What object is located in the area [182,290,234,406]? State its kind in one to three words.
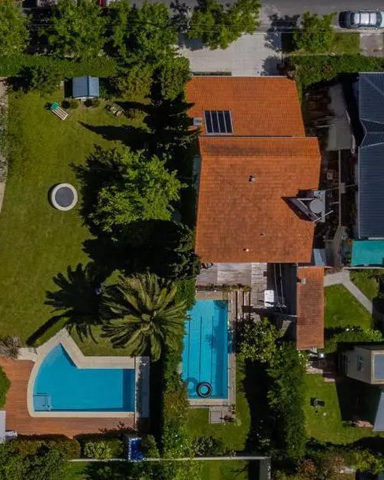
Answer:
swimming pool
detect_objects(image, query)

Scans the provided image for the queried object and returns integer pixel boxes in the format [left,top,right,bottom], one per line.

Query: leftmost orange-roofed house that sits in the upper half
[185,75,332,262]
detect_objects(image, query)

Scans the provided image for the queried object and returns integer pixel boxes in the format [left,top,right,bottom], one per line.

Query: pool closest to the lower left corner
[28,327,134,417]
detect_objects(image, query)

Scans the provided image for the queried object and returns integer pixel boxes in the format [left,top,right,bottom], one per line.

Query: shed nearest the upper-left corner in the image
[71,76,99,99]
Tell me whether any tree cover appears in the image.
Yes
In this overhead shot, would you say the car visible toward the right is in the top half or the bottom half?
top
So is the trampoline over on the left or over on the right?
left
